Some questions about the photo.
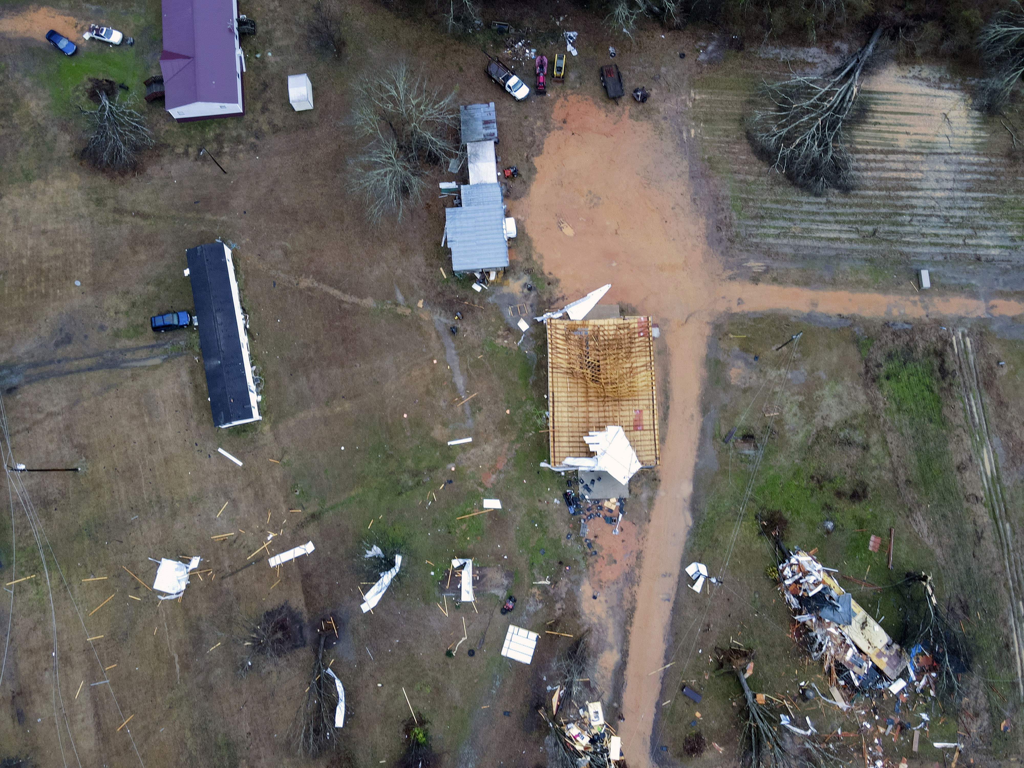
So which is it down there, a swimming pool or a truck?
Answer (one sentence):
There is a truck in the scene.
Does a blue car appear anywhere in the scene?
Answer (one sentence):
Yes, a blue car appears in the view.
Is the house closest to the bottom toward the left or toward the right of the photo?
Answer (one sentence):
You can find the house closest to the bottom on the right side of the picture.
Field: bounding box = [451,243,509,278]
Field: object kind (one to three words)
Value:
shed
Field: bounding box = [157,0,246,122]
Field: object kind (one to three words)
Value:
house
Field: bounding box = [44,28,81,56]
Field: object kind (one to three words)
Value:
car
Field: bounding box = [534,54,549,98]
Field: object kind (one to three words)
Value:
work vehicle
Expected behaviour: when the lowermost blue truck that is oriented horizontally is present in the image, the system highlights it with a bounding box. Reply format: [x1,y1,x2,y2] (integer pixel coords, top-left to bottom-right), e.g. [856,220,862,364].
[149,310,193,331]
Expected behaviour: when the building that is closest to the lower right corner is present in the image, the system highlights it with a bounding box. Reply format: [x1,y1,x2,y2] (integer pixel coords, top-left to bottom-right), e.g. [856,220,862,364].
[798,547,910,679]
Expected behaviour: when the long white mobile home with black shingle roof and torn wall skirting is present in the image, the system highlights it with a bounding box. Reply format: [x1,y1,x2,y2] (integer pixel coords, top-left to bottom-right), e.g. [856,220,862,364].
[186,241,262,428]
